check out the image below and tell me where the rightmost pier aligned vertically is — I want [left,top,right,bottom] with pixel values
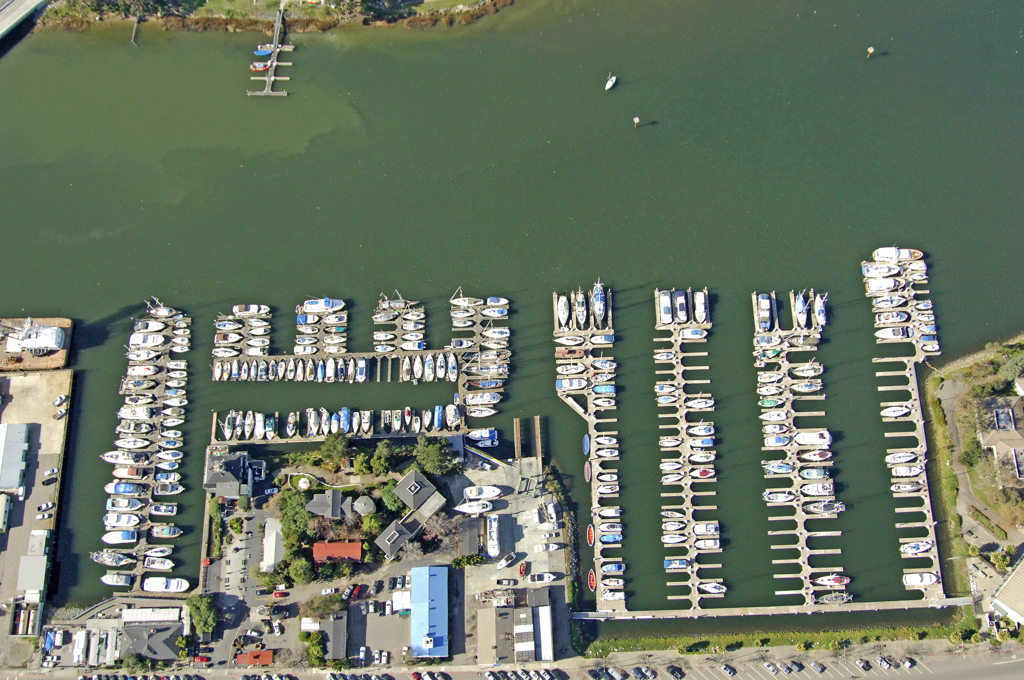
[861,260,945,599]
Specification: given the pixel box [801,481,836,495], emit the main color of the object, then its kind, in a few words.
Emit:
white boat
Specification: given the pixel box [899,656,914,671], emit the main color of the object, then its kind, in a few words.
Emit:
white vehicle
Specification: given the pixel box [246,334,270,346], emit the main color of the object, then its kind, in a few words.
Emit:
white boat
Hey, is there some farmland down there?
No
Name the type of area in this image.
port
